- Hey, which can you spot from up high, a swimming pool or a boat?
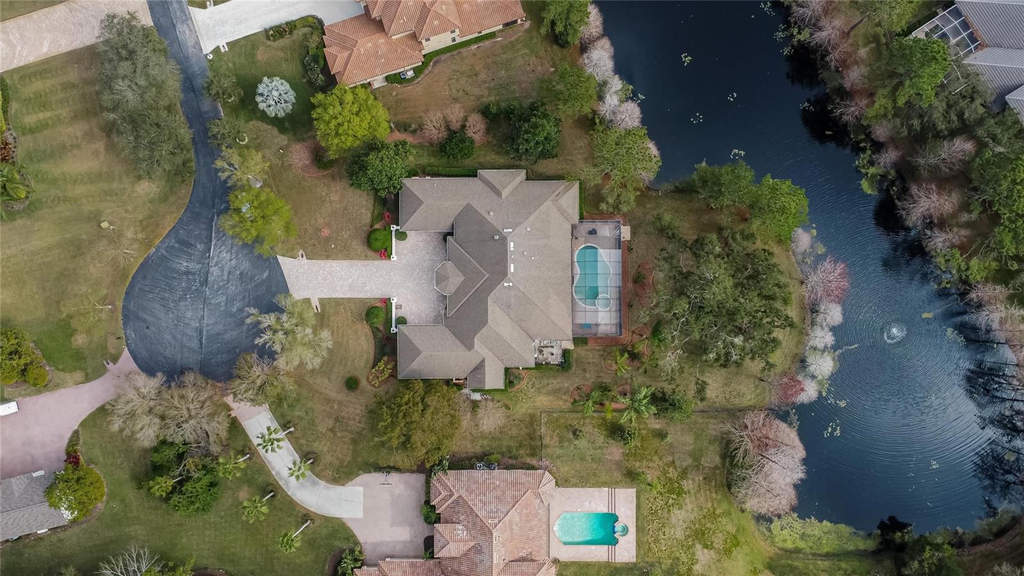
swimming pool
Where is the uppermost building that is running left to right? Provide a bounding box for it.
[323,0,525,88]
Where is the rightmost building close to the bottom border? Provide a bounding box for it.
[354,469,558,576]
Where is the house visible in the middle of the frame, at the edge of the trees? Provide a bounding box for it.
[397,169,579,389]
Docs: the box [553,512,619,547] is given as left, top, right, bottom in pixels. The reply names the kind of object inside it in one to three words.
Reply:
swimming pool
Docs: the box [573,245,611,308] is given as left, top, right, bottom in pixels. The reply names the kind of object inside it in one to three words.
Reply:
swimming pool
